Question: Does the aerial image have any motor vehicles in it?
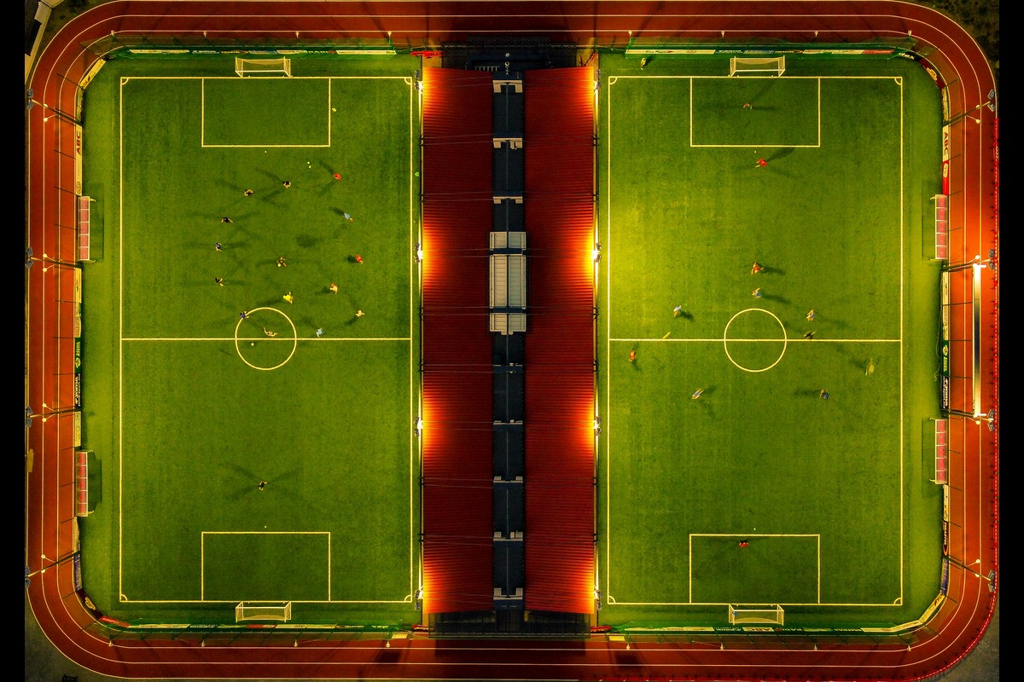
No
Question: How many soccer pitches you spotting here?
2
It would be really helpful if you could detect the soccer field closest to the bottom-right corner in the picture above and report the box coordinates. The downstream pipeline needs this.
[601,47,949,635]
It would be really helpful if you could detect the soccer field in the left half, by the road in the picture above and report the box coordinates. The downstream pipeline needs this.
[74,47,419,632]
